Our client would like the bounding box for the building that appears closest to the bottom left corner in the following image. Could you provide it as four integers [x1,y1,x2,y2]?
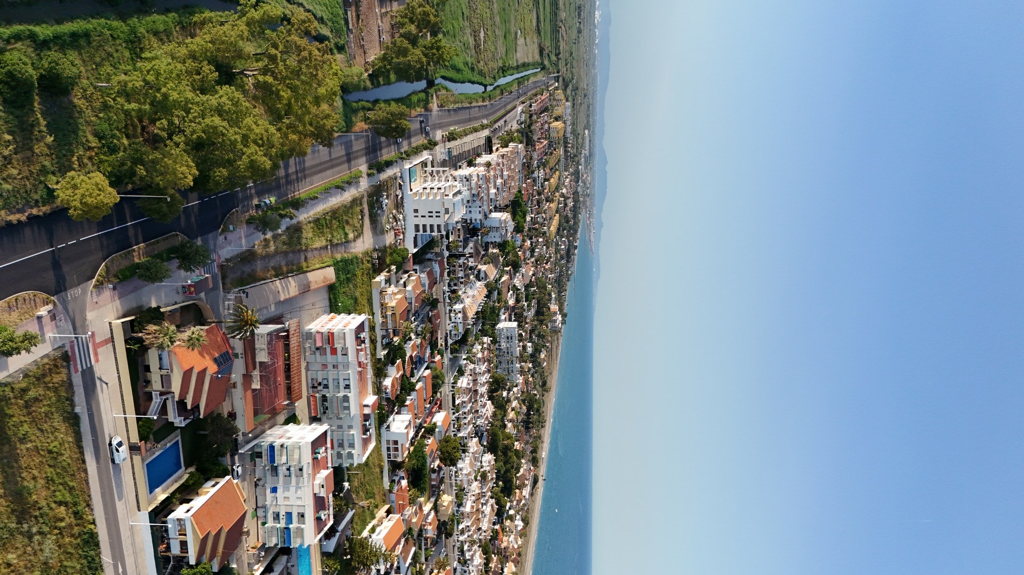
[154,466,248,575]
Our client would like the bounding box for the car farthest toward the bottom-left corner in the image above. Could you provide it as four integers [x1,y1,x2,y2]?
[110,436,128,466]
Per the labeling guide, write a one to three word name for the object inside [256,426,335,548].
building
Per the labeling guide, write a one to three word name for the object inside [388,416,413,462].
house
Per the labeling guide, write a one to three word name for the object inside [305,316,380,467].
building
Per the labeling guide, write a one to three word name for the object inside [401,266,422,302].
house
